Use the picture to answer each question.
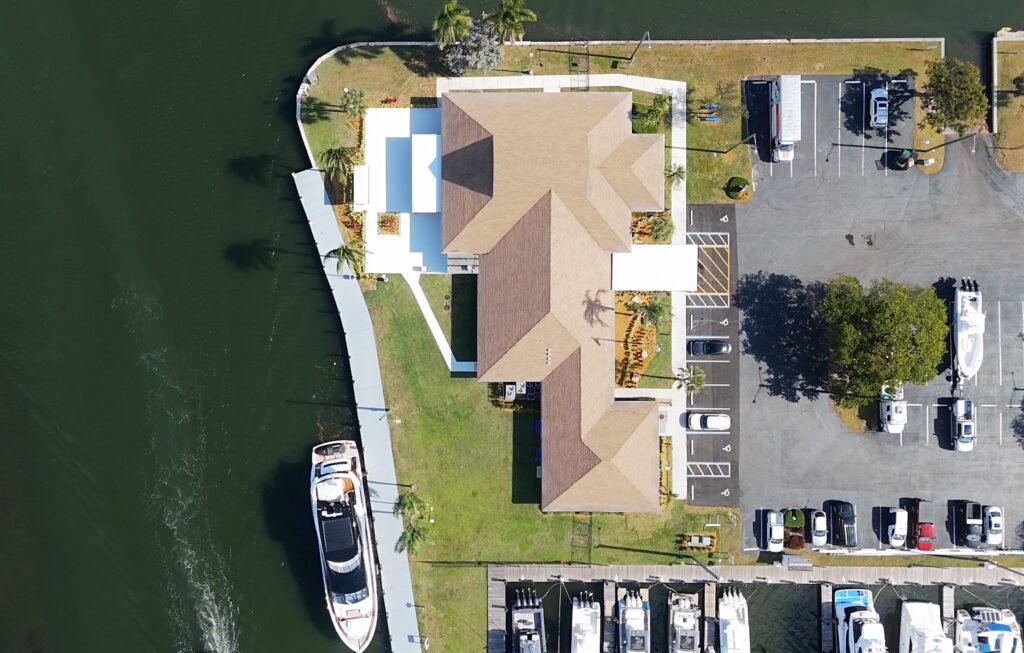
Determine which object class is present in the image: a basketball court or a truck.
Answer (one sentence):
Looking from above, you can make out a truck.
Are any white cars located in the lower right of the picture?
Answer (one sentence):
Yes, there is a white car in the lower right of the picture.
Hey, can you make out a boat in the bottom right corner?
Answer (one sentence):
Yes, looking in the bottom right corner, one can make out a boat.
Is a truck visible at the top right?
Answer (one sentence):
Yes, a truck appears at the top right.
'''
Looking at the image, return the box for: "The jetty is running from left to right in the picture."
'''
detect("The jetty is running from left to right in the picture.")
[506,566,1024,587]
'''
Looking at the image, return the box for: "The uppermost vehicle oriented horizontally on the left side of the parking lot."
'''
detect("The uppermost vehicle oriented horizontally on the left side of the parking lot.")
[690,338,731,358]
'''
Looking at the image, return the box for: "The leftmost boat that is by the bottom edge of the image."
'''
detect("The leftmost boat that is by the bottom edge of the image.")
[311,439,382,653]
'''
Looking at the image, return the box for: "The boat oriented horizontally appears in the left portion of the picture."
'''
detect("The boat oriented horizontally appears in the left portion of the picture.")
[318,446,347,459]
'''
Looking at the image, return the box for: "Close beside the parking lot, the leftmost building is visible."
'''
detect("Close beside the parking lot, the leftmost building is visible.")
[440,91,665,513]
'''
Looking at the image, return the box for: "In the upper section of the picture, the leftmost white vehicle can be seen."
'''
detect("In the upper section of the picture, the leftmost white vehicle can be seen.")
[769,74,801,164]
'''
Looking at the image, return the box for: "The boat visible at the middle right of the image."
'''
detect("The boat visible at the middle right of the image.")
[953,275,986,386]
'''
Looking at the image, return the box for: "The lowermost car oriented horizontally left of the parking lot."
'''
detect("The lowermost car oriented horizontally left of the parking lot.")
[688,413,731,434]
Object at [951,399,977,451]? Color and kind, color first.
white truck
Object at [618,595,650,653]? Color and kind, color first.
white boat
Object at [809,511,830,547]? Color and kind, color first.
white car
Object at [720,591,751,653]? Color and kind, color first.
white boat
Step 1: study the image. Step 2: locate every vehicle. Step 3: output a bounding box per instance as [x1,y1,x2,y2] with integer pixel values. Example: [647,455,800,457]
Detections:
[809,511,830,547]
[765,510,788,553]
[885,508,910,547]
[690,338,731,358]
[913,497,939,550]
[951,399,977,451]
[769,74,801,164]
[868,88,892,128]
[962,501,987,549]
[984,507,1006,546]
[878,383,905,433]
[688,413,731,434]
[833,501,859,551]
